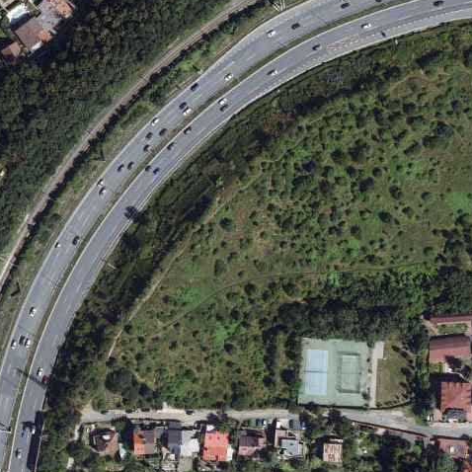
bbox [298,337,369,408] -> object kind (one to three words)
tennis court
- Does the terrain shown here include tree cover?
Yes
